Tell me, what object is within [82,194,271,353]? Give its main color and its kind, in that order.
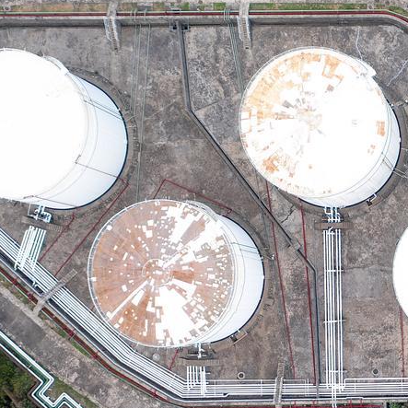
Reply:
white storage tank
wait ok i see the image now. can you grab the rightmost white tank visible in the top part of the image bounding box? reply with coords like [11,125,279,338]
[235,42,406,216]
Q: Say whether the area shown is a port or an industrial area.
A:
industrial area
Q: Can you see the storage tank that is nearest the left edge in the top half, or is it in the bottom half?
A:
top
